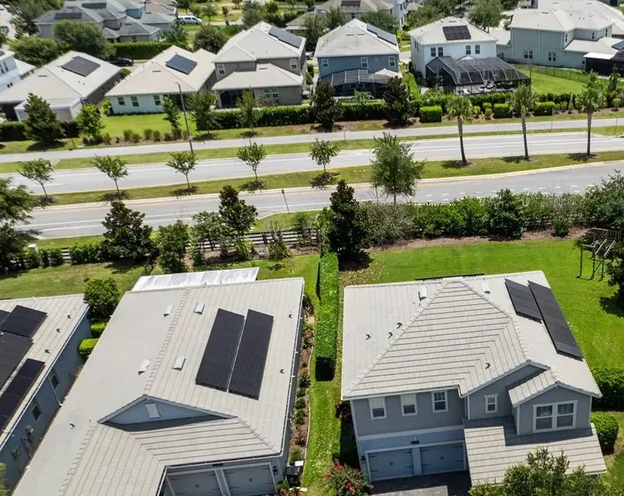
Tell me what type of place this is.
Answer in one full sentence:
The picture captures a residential area.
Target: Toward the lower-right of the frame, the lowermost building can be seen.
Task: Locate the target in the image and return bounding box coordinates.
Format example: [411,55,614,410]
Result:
[340,267,610,496]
